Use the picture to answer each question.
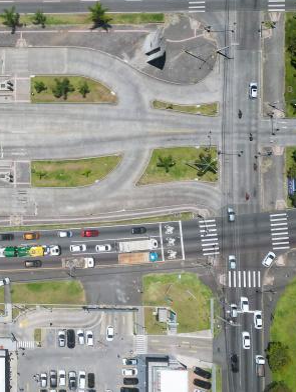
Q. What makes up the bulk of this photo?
paved ground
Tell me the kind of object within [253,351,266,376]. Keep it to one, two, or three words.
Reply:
vehicle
